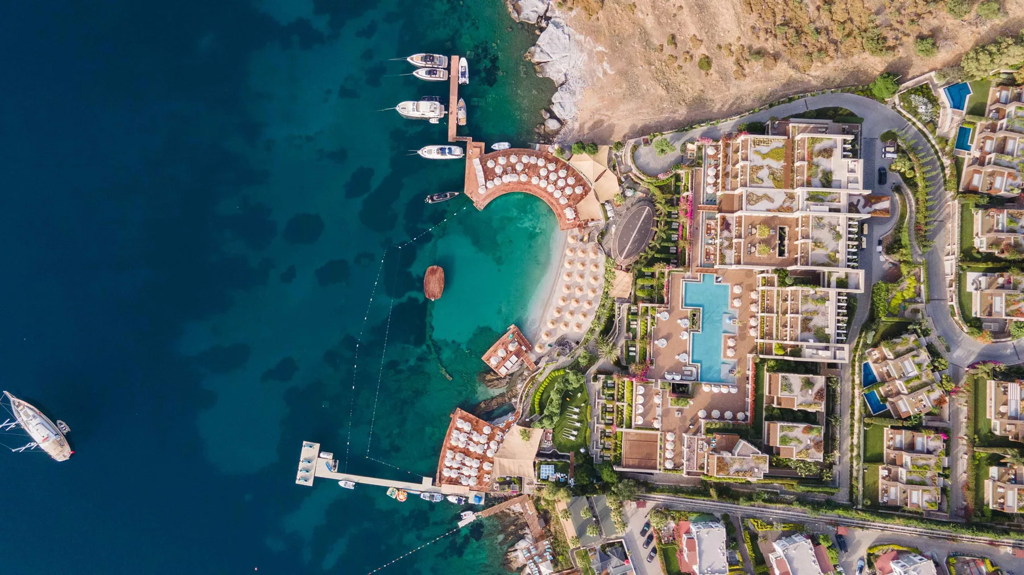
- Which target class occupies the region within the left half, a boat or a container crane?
boat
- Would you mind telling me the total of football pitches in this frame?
none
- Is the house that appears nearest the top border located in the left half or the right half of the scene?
right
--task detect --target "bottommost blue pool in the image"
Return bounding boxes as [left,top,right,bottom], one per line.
[862,390,889,415]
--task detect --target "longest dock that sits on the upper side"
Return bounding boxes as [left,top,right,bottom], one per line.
[449,55,472,142]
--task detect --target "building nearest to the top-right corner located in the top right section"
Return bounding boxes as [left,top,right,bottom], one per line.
[983,86,1024,123]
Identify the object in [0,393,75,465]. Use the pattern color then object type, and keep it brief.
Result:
white boat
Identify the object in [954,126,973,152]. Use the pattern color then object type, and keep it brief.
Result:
blue swimming pool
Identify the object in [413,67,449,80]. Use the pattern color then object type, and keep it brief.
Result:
white boat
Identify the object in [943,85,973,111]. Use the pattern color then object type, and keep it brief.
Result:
blue swimming pool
